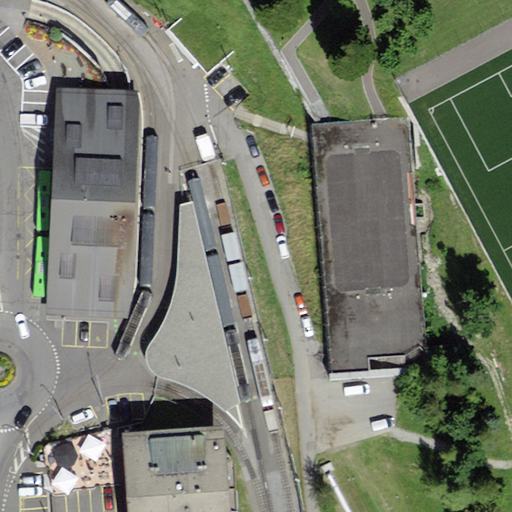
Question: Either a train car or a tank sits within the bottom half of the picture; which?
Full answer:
There is a train car within the bottom half of the picture.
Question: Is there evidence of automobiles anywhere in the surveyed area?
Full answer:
Yes, the frame does contain an automobile.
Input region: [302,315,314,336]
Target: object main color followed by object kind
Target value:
white vehicle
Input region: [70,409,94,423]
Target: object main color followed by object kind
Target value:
white car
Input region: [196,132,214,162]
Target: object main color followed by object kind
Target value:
white vehicle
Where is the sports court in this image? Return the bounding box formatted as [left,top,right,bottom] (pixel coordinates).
[326,148,410,296]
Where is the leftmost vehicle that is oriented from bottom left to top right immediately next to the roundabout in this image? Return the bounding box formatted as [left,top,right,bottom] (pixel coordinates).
[14,406,32,428]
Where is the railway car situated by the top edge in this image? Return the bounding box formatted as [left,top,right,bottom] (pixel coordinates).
[104,0,148,36]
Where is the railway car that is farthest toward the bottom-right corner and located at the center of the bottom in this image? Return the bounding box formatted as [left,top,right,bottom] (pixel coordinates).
[264,408,280,432]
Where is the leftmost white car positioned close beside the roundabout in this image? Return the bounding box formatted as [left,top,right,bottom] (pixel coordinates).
[16,314,28,338]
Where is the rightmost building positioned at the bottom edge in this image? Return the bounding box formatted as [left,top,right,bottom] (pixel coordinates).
[120,427,237,512]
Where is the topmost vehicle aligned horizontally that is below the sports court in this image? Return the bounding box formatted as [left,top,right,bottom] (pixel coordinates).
[343,382,370,394]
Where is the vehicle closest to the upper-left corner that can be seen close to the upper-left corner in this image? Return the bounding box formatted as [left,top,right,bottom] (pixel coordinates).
[2,37,23,56]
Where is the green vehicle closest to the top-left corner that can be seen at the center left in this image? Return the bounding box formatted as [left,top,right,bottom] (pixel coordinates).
[34,170,48,233]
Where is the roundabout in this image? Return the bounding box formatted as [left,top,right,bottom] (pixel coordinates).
[0,335,33,407]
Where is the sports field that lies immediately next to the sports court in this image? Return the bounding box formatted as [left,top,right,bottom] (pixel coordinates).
[407,49,512,302]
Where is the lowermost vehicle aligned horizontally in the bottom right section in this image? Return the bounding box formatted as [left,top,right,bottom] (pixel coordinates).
[369,416,396,431]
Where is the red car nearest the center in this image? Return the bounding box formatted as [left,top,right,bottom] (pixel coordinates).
[273,214,285,235]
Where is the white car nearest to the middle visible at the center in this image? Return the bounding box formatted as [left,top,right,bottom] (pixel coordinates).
[276,235,289,259]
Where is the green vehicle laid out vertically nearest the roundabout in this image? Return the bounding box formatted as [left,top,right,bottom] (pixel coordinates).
[32,236,47,298]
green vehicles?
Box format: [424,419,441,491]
[34,170,48,233]
[32,236,47,298]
